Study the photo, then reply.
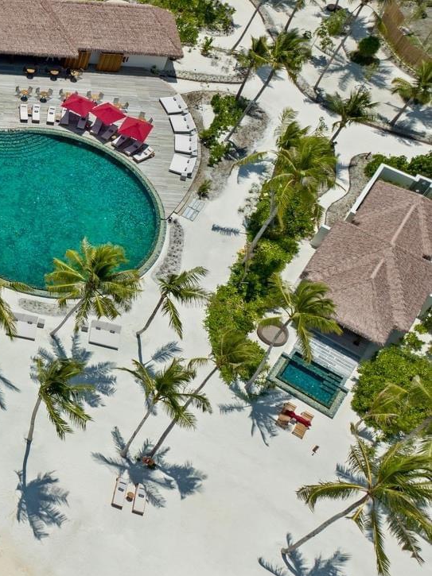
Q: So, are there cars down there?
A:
No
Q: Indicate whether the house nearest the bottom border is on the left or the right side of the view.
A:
right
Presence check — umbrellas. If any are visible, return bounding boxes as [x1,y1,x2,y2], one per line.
[61,91,98,123]
[91,98,127,131]
[118,114,154,147]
